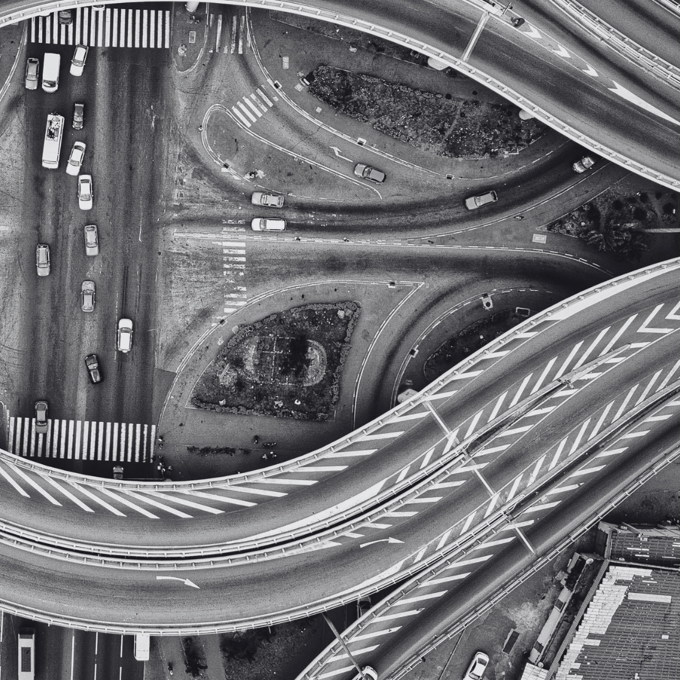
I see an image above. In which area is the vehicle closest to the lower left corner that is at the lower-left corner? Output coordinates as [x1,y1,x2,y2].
[18,626,36,680]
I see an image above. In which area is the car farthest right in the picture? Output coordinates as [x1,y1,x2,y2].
[569,152,601,174]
